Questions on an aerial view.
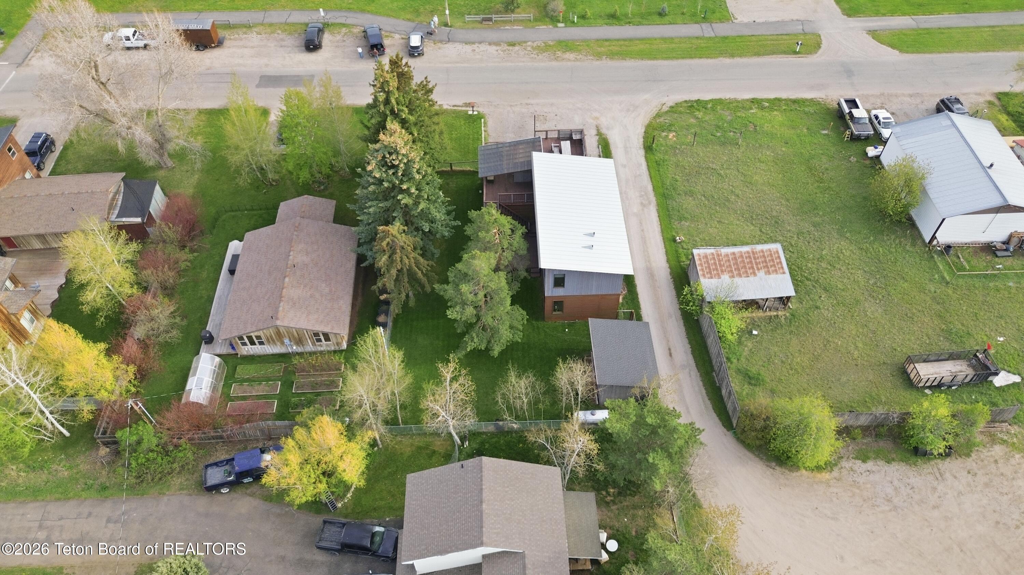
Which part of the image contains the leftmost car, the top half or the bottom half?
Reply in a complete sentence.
It is in the top half that the leftmost car appears.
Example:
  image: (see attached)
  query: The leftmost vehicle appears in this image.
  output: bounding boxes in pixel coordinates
[22,134,56,172]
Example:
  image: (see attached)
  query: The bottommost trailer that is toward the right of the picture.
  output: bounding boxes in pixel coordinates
[905,348,1003,387]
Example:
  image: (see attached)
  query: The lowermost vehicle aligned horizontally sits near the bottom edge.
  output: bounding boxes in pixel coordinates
[315,520,403,563]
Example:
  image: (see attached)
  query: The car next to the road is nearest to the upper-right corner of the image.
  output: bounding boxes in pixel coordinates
[935,88,979,118]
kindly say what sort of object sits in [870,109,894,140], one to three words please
car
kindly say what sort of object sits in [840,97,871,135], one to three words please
truck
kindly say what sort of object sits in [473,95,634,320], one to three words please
house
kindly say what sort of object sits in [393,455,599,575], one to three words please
house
